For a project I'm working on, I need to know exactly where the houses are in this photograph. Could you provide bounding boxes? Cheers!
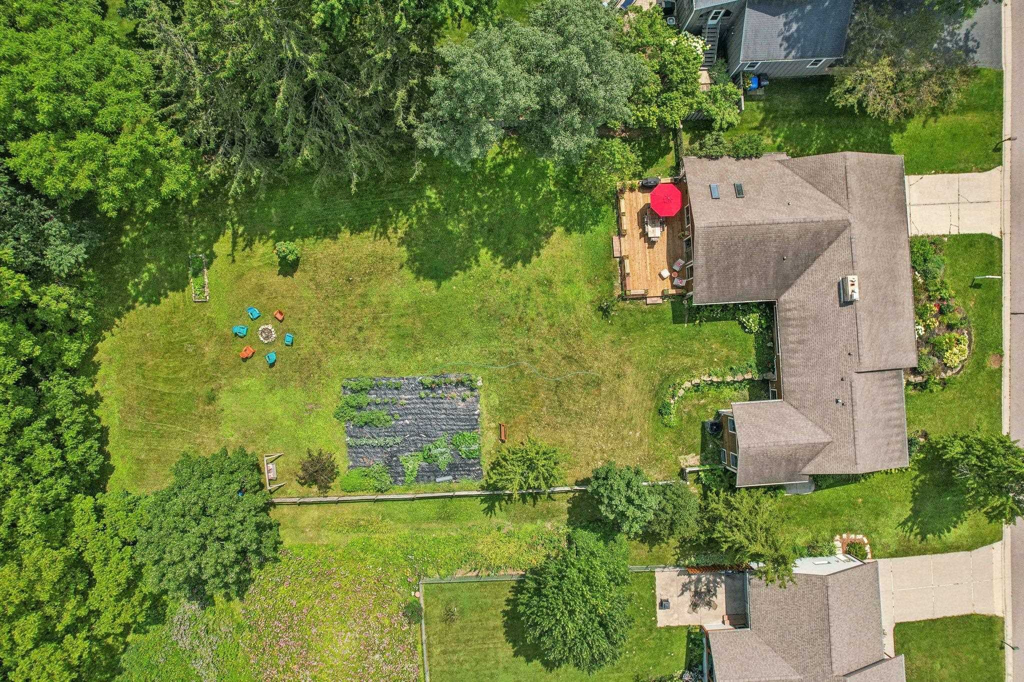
[702,552,908,682]
[682,0,851,78]
[674,152,918,487]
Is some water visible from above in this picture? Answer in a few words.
No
